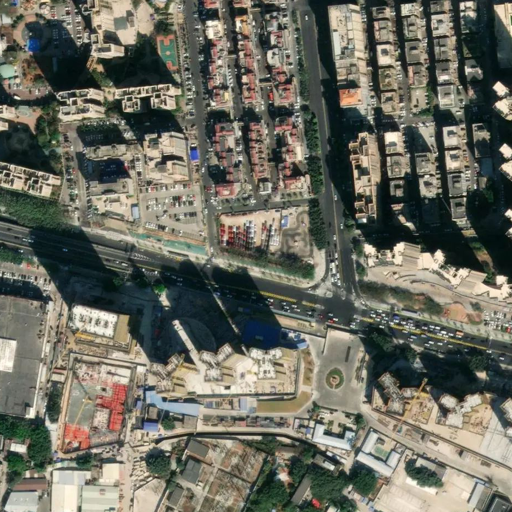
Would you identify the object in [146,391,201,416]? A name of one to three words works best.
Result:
shed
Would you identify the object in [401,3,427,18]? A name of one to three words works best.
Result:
building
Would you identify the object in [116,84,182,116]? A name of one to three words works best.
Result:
building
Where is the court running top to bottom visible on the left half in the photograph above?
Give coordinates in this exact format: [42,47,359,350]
[158,35,178,70]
